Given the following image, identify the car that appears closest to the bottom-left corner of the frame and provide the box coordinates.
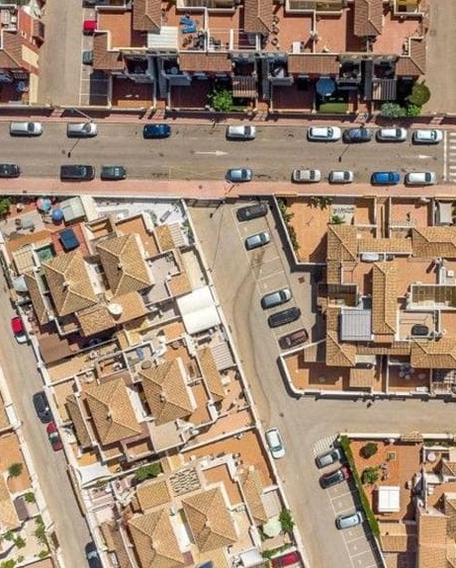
[85,542,103,568]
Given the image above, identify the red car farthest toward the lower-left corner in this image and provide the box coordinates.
[44,421,64,450]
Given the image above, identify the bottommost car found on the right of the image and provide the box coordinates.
[270,549,302,568]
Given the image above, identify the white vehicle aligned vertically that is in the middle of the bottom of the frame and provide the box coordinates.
[266,429,284,458]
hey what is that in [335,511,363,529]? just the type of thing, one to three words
car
